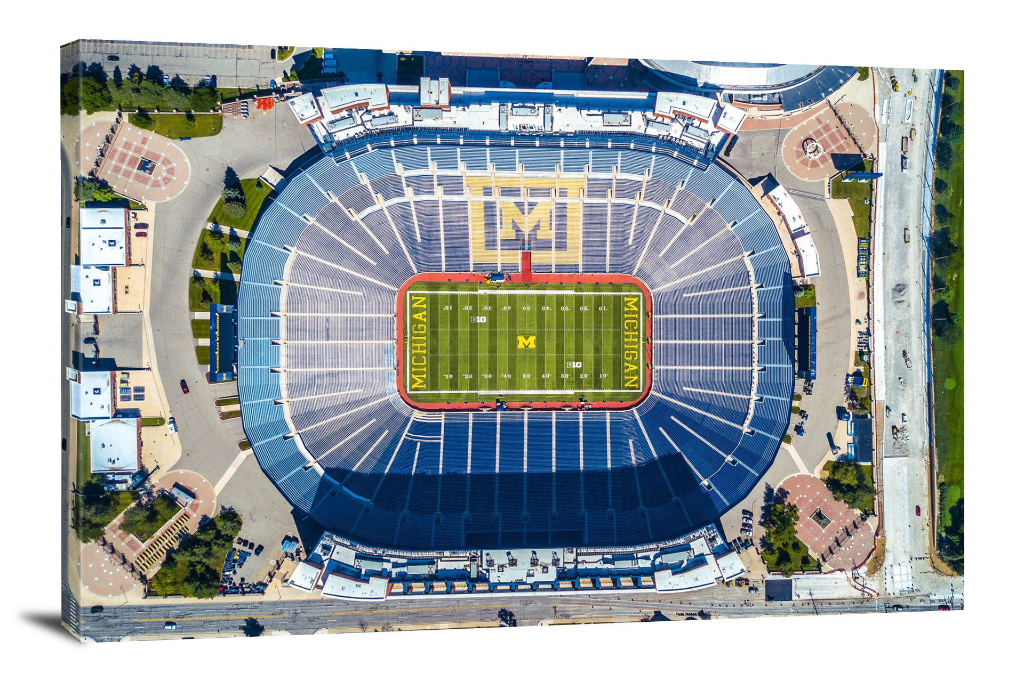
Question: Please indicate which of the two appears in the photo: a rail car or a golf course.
golf course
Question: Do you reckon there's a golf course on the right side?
Yes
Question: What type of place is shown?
sports ground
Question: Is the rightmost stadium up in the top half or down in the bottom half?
top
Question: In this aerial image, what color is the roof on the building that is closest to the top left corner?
white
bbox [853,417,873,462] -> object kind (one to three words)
shed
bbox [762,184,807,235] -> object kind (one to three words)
building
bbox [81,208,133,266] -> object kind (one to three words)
building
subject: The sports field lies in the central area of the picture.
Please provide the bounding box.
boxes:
[397,273,652,411]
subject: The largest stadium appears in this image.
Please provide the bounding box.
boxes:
[236,145,797,544]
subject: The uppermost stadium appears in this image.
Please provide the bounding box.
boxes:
[632,59,857,117]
